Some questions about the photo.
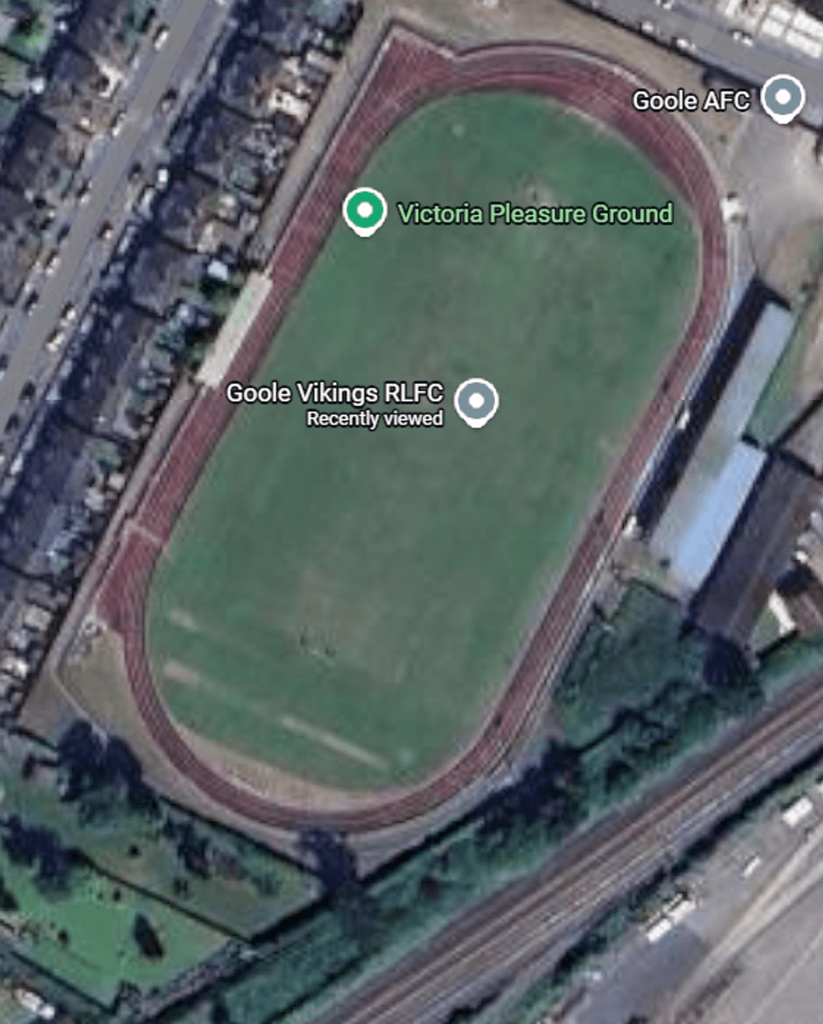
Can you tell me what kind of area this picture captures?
sports ground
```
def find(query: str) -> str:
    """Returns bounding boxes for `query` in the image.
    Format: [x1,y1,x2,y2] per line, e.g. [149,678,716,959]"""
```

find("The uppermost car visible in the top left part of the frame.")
[153,29,168,50]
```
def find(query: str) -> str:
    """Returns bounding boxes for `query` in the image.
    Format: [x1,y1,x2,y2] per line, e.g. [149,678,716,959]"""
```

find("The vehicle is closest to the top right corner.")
[733,31,753,46]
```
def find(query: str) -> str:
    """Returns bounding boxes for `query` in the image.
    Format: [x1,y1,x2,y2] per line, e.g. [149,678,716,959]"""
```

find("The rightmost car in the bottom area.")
[744,856,761,876]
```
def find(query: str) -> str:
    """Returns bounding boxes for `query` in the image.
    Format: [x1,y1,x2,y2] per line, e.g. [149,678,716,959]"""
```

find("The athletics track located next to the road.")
[94,31,727,832]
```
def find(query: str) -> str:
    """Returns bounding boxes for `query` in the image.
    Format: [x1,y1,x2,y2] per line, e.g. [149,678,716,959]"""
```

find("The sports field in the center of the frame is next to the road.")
[145,89,704,814]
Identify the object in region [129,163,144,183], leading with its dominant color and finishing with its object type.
gray car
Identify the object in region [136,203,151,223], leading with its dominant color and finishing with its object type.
gray car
